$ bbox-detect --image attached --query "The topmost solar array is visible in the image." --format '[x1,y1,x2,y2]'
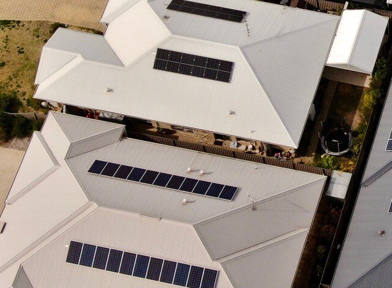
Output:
[167,0,246,23]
